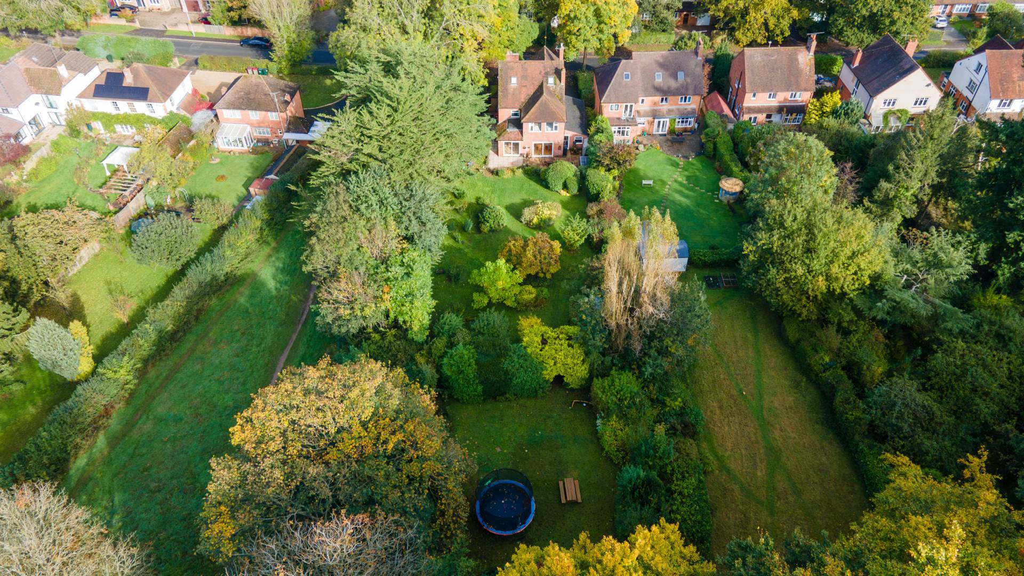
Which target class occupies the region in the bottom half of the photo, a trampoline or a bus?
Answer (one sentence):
Looking in the bottom half of the photo, you will find a trampoline.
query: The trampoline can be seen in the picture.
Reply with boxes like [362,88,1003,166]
[474,471,536,549]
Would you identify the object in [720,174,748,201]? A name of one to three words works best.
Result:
building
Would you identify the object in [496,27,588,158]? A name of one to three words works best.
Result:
house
